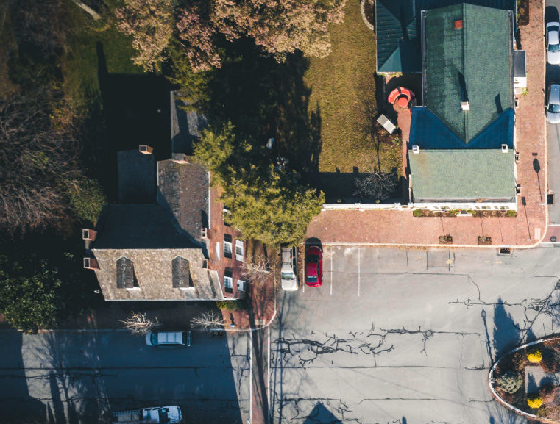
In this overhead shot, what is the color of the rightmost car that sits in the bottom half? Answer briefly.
red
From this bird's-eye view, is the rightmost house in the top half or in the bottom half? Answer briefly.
top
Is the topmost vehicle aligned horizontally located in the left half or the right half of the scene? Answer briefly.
left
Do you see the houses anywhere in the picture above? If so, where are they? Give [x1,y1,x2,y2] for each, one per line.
[376,0,528,219]
[78,145,243,307]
